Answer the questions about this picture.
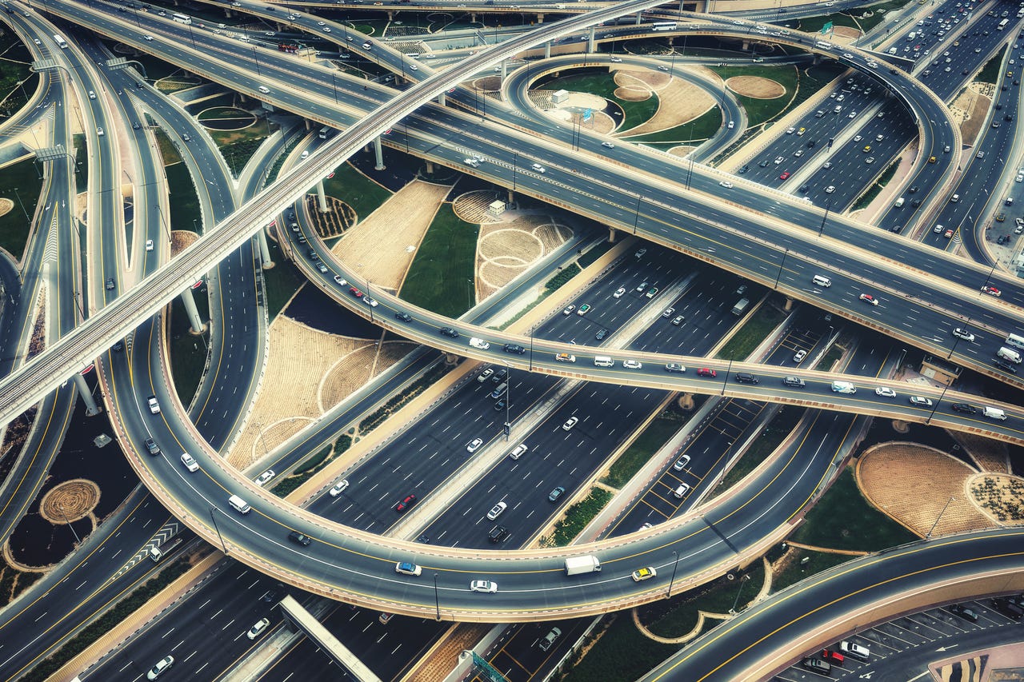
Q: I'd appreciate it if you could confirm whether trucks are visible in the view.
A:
Yes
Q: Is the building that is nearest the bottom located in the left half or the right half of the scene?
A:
right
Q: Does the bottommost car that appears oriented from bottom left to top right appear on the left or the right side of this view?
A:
left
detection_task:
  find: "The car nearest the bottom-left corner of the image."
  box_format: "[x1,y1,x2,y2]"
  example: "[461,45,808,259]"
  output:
[145,654,175,681]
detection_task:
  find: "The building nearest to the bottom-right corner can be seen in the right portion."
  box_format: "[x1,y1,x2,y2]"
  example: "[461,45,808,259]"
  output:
[918,354,966,391]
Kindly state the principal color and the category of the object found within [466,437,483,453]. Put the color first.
white car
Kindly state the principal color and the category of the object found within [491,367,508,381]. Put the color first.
black car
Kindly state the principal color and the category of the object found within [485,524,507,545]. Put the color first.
black truck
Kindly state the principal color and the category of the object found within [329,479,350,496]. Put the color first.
white car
